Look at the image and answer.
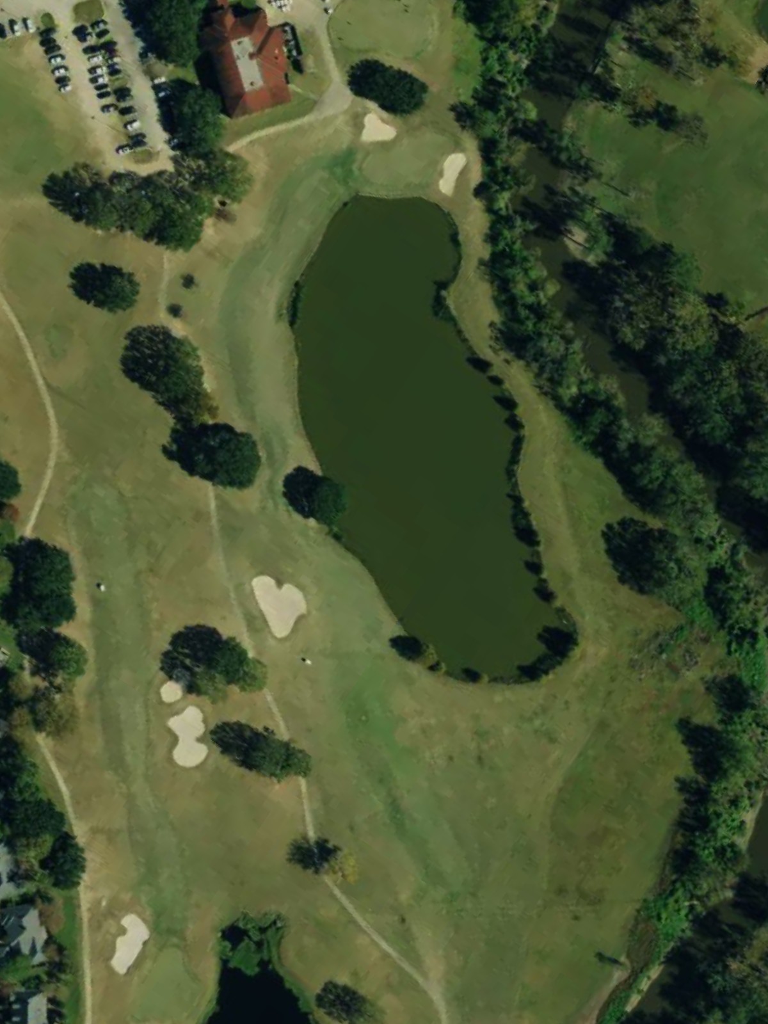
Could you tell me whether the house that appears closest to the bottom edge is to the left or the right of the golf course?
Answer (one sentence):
You can see the house that appears closest to the bottom edge positioned to the left of the golf course.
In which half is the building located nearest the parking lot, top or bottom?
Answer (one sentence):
Seen from above, the building located nearest the parking lot lies in the top half of the view.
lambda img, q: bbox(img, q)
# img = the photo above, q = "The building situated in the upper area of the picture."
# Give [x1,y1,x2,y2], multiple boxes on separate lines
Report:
[207,0,291,116]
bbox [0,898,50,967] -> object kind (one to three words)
house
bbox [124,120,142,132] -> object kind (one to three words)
vehicle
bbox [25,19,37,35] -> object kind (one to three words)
vehicle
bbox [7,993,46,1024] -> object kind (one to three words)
house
